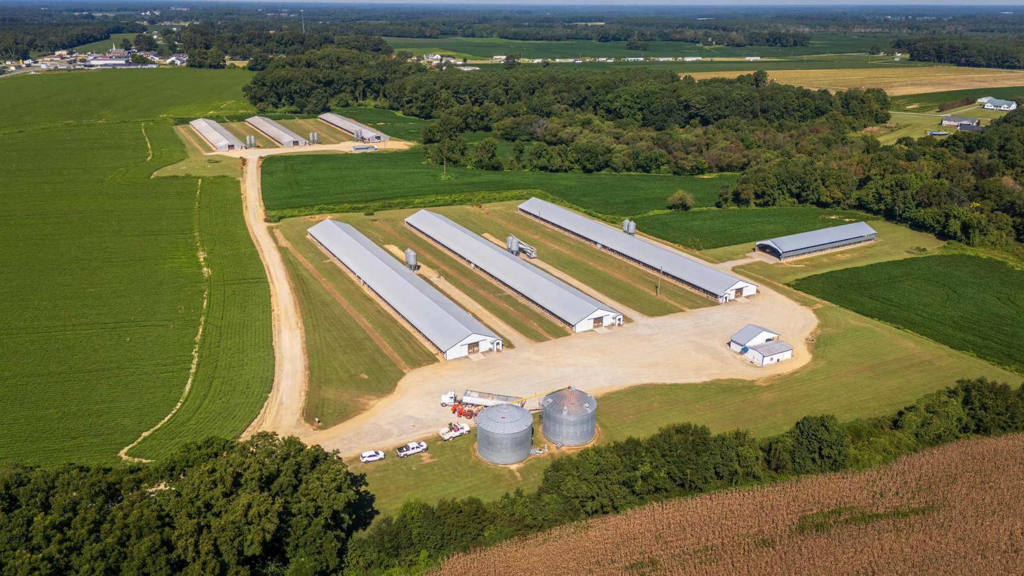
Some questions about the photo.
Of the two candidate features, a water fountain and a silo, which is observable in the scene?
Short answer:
silo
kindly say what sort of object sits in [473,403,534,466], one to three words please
silo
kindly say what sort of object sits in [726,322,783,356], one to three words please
shed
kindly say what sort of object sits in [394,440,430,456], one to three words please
vehicle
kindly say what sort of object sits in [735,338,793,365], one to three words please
building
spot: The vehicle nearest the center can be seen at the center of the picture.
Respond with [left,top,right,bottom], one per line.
[515,232,538,256]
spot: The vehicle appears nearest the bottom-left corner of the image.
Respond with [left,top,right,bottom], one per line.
[359,447,388,461]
